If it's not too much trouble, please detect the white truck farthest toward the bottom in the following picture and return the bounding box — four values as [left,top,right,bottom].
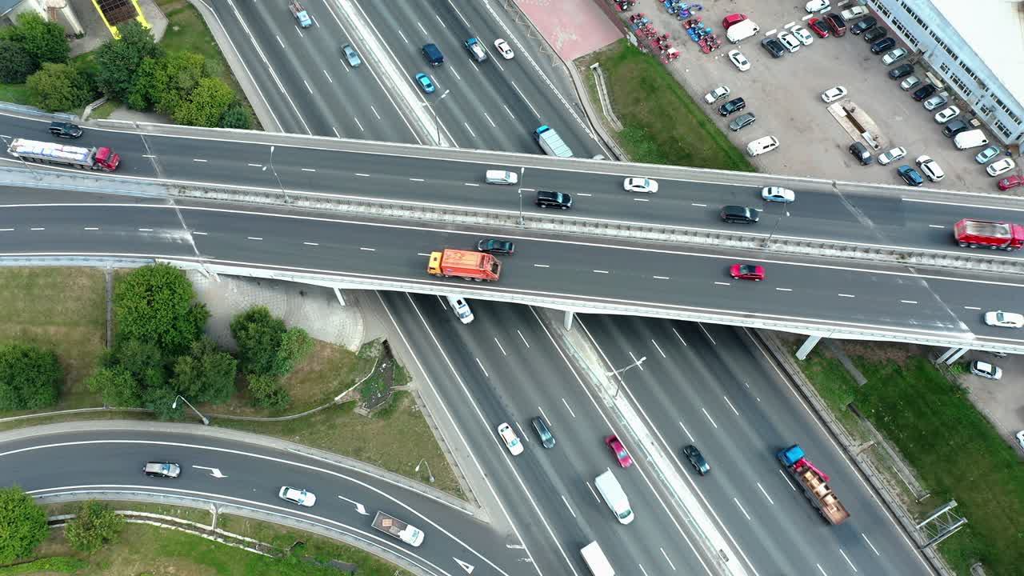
[578,540,617,576]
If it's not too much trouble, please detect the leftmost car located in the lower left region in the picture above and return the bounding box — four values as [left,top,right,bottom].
[141,460,183,479]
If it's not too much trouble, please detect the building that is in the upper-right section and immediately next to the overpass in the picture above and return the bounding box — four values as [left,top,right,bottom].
[869,0,1024,152]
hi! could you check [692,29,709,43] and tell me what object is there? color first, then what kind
blue work vehicle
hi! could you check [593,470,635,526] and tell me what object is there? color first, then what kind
white van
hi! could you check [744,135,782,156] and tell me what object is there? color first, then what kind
white vehicle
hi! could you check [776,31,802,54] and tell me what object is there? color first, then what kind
white car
